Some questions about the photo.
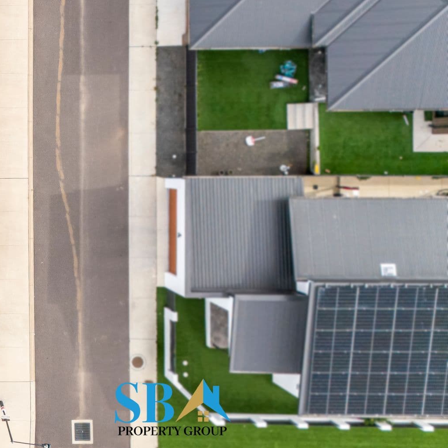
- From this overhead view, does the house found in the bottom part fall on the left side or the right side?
right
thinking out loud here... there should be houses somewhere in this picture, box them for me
[181,0,448,112]
[169,176,448,419]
